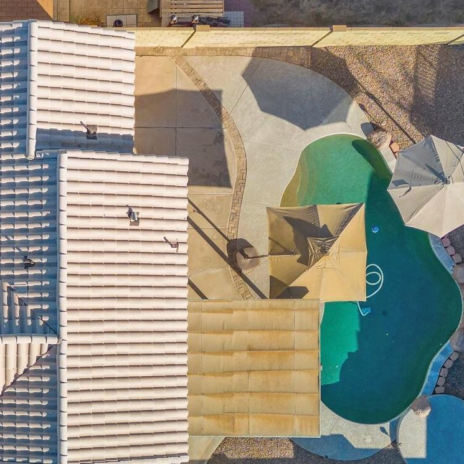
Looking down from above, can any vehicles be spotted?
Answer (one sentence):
No, this view has no vehicle in it.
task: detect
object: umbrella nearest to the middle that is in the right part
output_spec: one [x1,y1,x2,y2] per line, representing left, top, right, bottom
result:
[229,204,366,302]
